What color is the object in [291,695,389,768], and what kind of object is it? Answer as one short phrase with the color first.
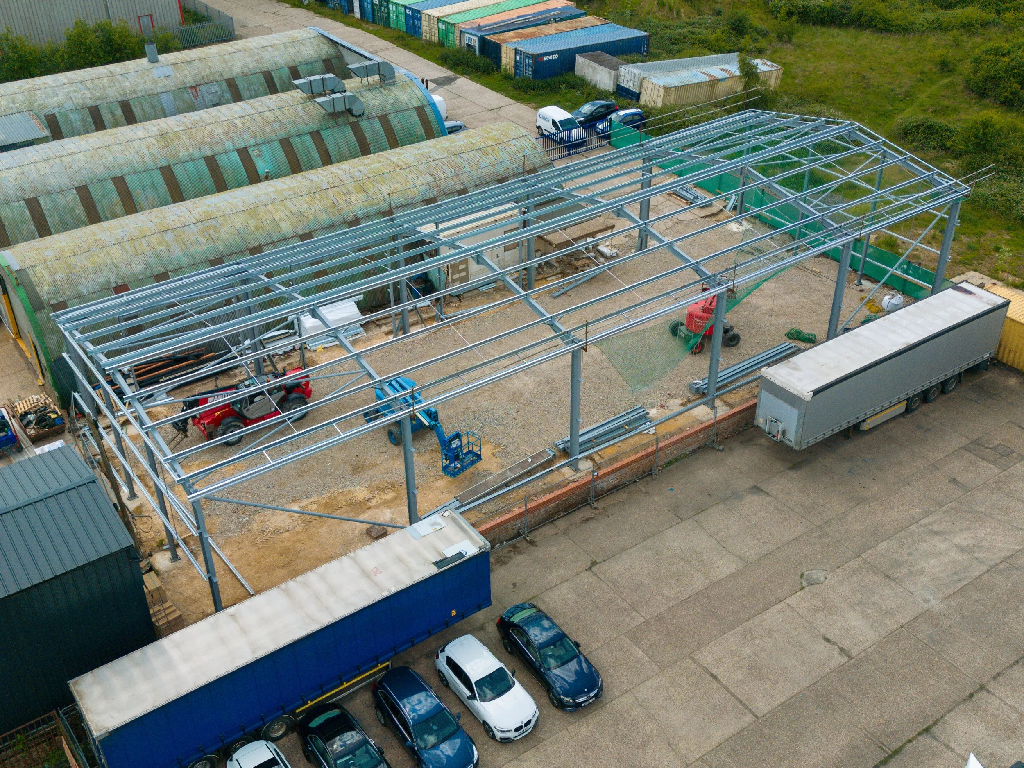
black car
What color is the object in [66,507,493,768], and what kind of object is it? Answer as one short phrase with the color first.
white trailer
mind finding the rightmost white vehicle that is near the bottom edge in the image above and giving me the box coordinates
[434,632,539,743]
